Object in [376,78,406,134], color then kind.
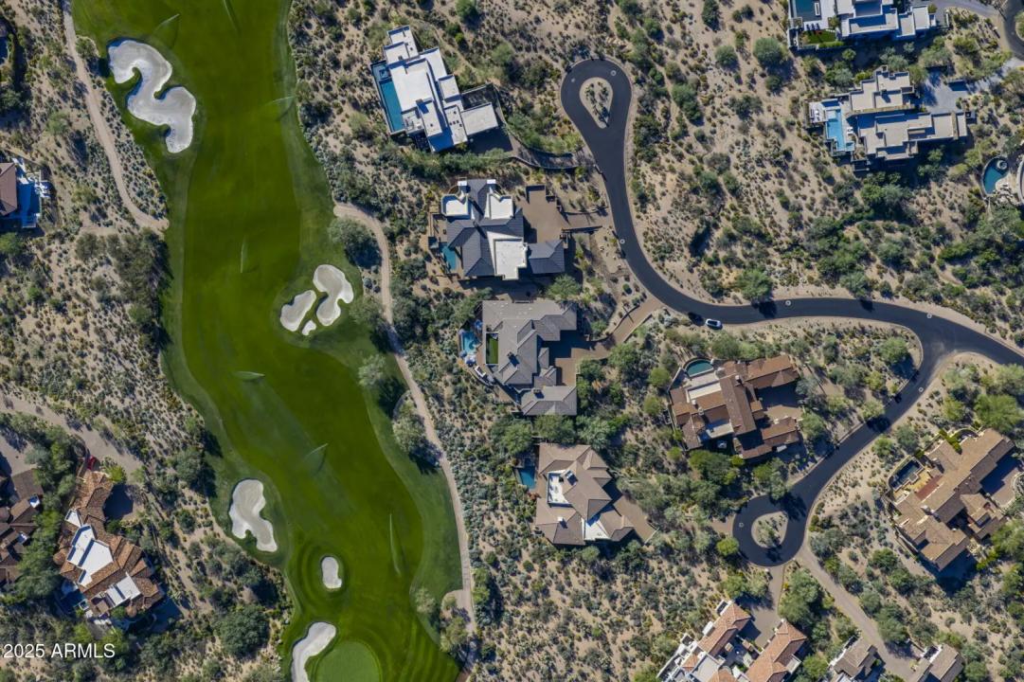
blue swimming pool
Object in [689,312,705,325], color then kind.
black vehicle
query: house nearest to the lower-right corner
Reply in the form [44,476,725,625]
[901,641,965,682]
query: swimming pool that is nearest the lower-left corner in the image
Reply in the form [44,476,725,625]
[58,583,89,610]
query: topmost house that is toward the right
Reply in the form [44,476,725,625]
[822,0,938,50]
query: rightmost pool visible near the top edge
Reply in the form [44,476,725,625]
[792,0,826,24]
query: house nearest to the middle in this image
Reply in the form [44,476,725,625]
[482,300,577,416]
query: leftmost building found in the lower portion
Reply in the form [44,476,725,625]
[0,469,46,583]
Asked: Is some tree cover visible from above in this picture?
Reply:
Yes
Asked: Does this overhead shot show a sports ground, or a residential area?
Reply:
residential area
